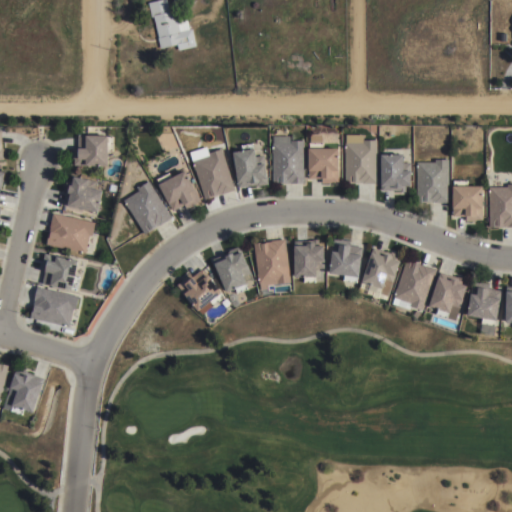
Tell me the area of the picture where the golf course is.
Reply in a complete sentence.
You can find the golf course in the bottom area of the picture.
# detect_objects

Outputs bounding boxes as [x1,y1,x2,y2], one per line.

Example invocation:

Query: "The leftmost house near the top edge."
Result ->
[150,0,196,50]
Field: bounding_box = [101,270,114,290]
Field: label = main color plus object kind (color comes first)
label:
blue swimming pool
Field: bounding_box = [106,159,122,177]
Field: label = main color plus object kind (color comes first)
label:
blue swimming pool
